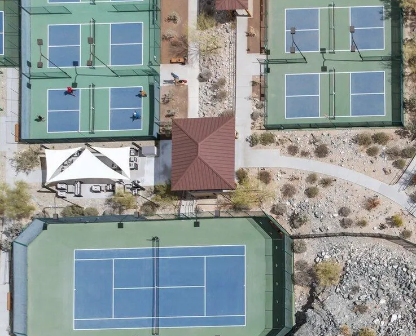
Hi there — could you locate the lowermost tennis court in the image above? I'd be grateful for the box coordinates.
[26,214,295,336]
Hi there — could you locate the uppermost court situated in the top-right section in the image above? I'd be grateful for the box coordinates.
[267,0,401,62]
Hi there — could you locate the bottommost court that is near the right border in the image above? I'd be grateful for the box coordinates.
[266,61,402,130]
